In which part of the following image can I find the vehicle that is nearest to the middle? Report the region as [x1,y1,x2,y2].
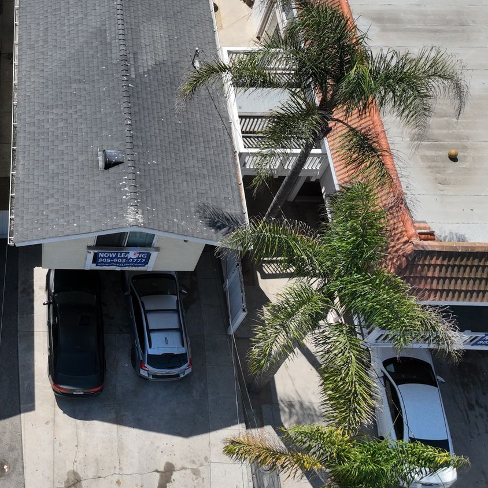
[120,270,192,383]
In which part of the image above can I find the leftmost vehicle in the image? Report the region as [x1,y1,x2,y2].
[41,268,110,399]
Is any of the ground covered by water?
No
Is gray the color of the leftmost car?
No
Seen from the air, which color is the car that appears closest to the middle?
black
